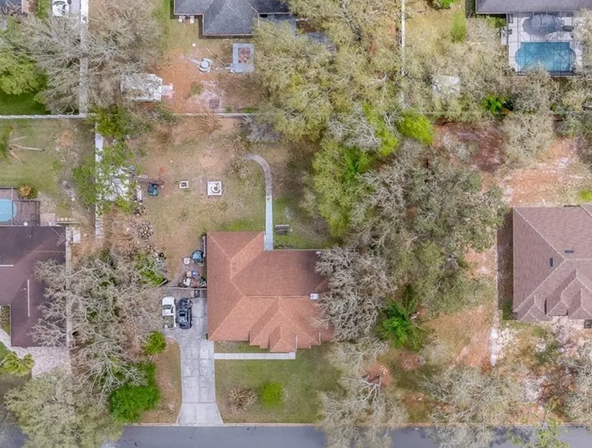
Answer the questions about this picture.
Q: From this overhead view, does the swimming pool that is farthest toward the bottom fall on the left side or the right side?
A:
left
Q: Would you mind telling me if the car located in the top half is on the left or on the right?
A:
left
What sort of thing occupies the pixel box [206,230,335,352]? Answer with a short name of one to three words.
house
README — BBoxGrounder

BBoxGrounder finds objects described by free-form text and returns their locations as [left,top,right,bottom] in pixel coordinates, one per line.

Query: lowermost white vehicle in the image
[161,295,179,328]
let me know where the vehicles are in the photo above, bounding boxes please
[52,0,73,25]
[161,295,179,328]
[176,296,195,328]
